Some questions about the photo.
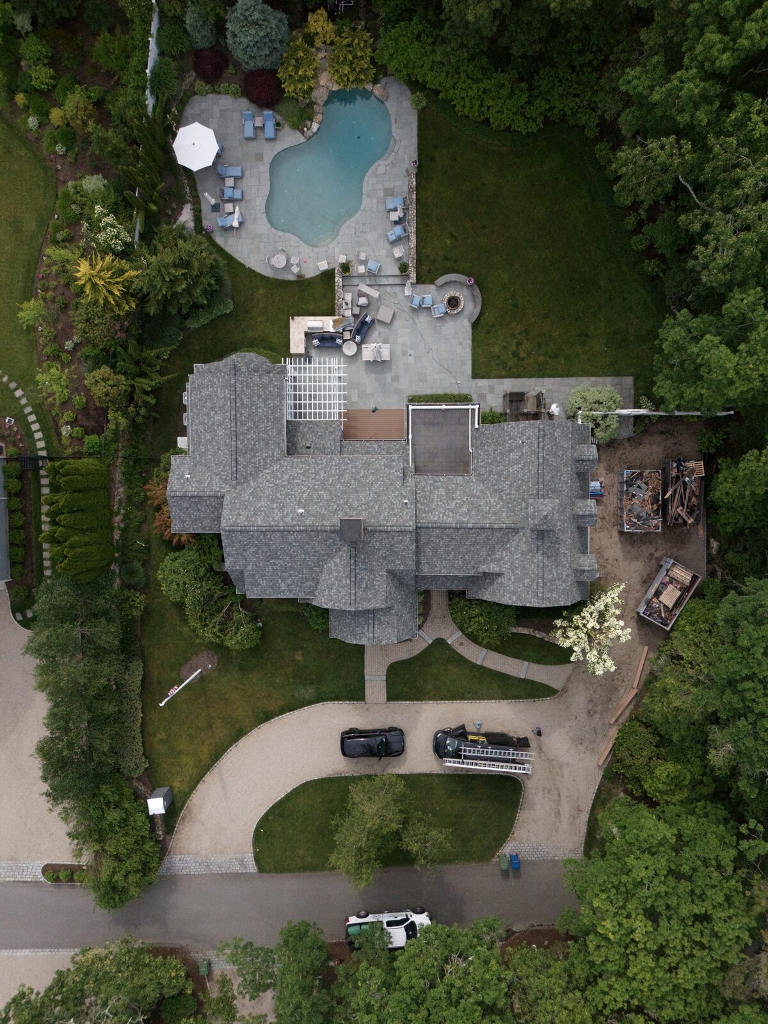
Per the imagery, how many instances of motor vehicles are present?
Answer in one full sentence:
The count of motor vehicles comes to 3.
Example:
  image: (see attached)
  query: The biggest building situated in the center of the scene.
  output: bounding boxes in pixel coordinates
[163,353,601,645]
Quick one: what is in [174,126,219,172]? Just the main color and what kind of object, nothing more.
white umbrella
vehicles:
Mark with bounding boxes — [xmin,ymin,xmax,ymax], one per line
[431,724,524,770]
[347,910,431,950]
[341,726,405,759]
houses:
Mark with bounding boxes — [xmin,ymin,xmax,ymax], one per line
[163,353,601,645]
[0,458,11,583]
